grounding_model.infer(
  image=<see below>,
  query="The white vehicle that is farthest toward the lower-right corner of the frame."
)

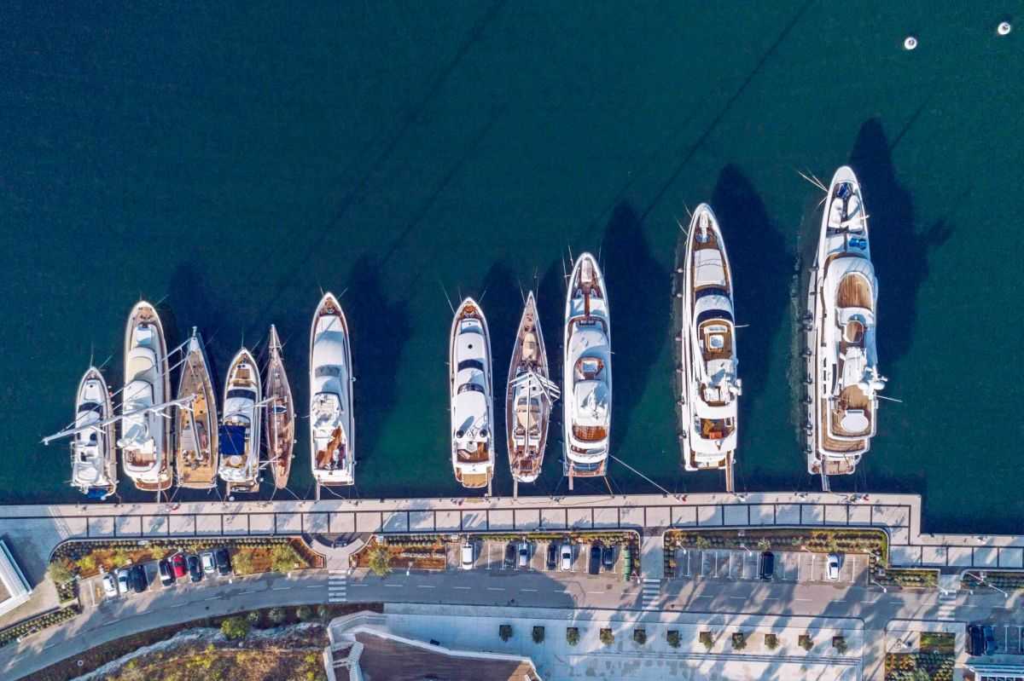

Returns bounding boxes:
[825,554,839,578]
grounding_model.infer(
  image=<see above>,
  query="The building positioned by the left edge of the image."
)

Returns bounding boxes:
[0,536,31,611]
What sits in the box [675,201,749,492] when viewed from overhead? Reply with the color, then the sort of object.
white boat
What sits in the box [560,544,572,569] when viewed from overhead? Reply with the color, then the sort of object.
white vehicle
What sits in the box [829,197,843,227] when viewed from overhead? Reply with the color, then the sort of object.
white boat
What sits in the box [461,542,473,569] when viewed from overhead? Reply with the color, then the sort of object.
white vehicle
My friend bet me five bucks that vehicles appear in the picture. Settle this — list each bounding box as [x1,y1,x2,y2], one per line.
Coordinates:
[603,544,615,568]
[588,543,602,574]
[825,554,839,578]
[966,625,983,654]
[203,551,217,573]
[103,571,119,594]
[505,546,516,569]
[758,551,773,580]
[218,548,232,574]
[517,542,529,565]
[131,563,149,592]
[118,568,132,593]
[461,542,473,569]
[560,544,572,569]
[174,554,188,578]
[545,544,557,569]
[160,559,176,585]
[189,556,203,581]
